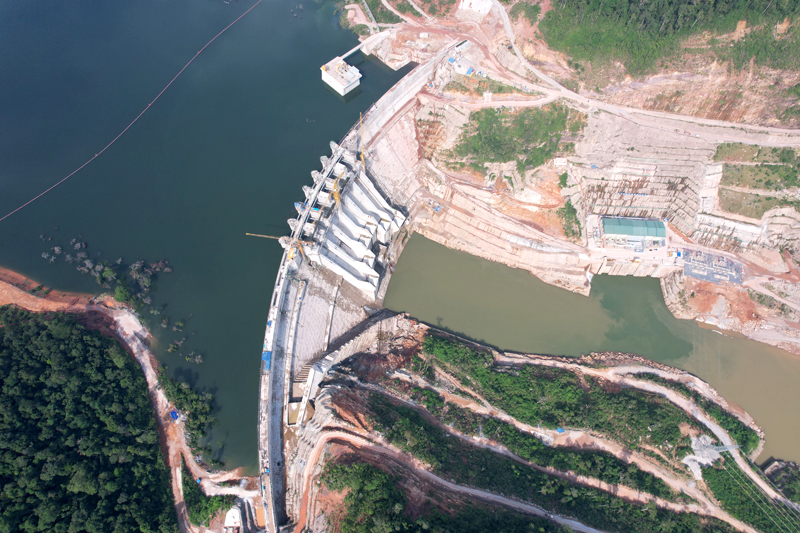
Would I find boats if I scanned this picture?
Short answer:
No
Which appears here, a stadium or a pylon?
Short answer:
pylon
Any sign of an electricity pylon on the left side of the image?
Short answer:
No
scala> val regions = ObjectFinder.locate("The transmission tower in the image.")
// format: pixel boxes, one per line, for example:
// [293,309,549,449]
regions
[693,265,772,513]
